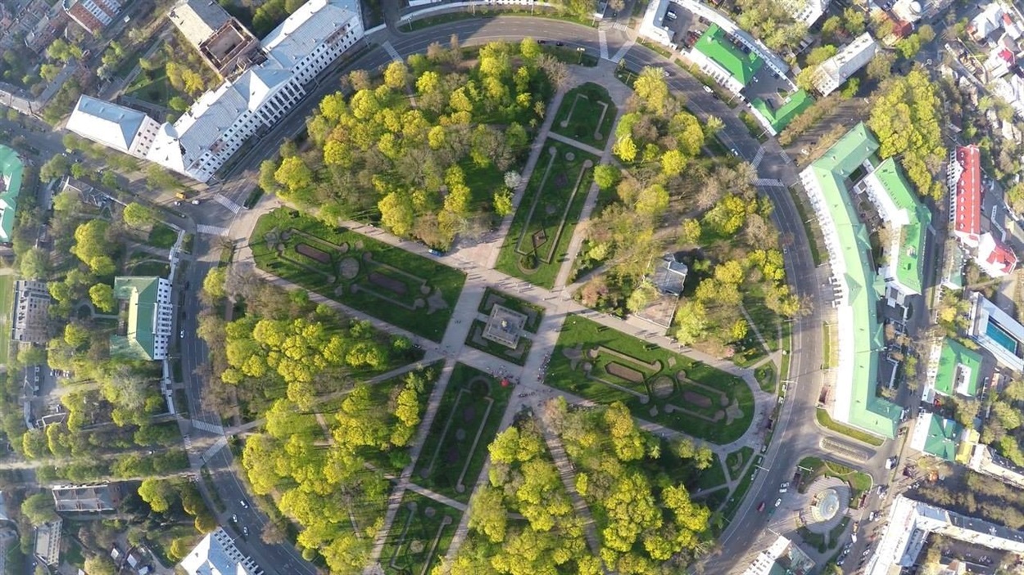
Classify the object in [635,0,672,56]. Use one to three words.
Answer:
house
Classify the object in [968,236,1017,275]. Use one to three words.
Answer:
house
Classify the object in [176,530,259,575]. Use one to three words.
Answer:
building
